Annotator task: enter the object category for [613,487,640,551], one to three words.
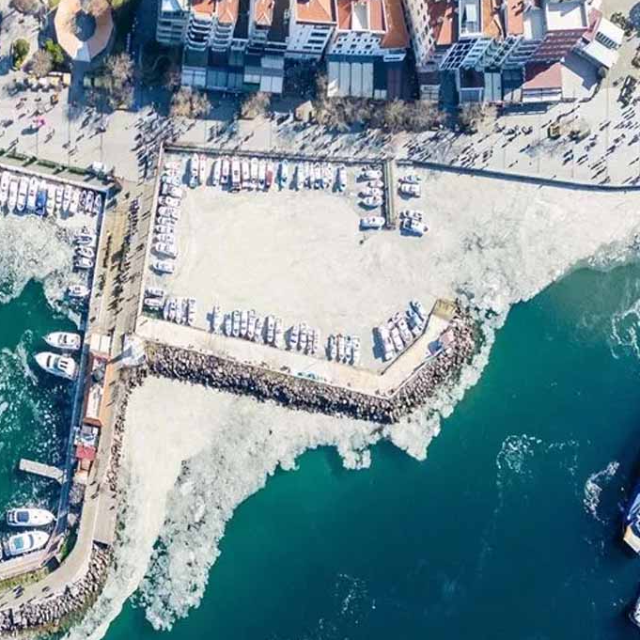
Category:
ship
